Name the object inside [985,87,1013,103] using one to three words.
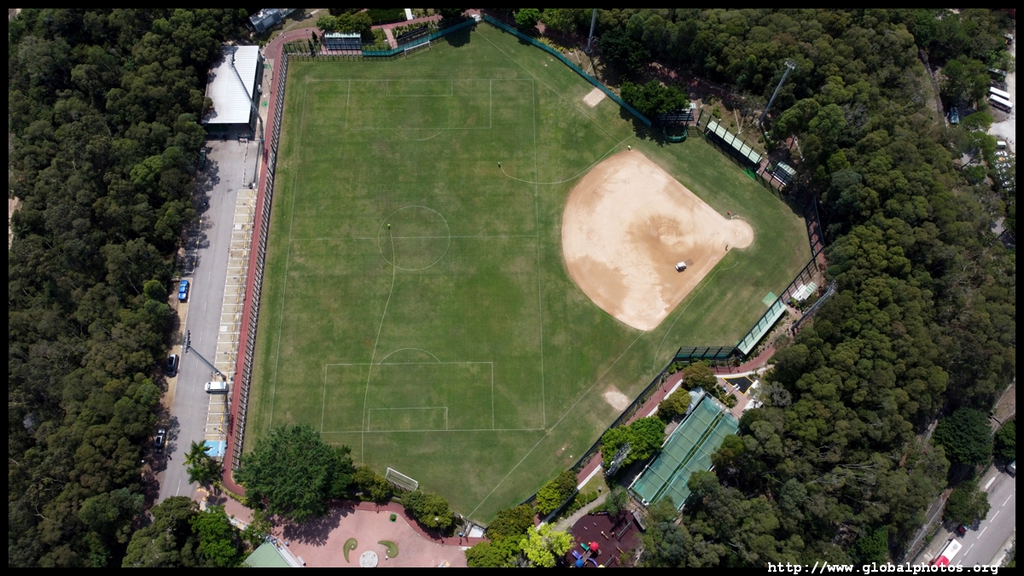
vehicle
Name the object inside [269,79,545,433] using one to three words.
soccer field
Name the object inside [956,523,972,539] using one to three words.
car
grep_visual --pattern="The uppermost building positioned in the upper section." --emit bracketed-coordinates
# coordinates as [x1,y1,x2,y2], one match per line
[249,0,303,32]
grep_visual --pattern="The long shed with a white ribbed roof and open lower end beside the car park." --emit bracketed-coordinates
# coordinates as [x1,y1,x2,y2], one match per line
[204,45,263,133]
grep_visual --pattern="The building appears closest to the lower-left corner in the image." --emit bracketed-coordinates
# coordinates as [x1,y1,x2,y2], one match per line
[241,539,307,576]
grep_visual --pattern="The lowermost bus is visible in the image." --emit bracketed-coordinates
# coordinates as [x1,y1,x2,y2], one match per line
[919,539,962,576]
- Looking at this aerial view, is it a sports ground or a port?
sports ground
